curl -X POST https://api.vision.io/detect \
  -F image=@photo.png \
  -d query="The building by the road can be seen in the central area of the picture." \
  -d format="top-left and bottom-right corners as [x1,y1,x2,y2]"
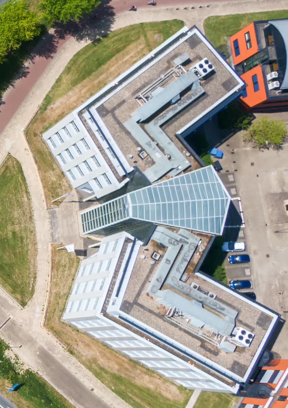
[51,24,282,394]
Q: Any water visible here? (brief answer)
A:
No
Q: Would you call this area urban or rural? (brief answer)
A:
urban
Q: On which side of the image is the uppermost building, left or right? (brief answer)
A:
right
